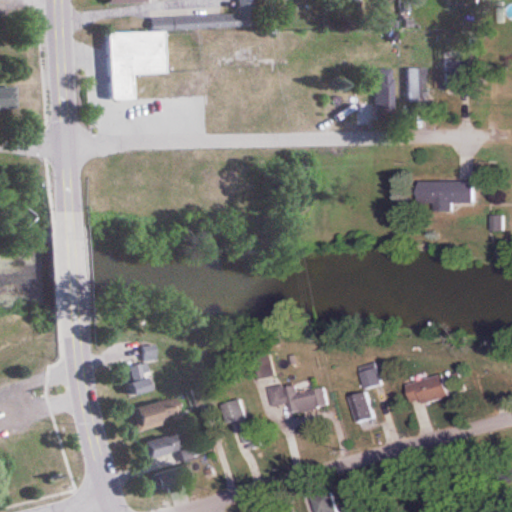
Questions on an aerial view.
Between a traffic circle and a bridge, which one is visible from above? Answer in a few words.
bridge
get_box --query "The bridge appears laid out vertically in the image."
[51,211,96,317]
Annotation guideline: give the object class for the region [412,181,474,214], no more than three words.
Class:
house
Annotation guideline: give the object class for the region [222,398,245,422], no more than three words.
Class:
house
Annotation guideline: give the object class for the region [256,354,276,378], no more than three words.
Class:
building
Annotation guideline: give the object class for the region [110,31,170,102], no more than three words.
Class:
building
